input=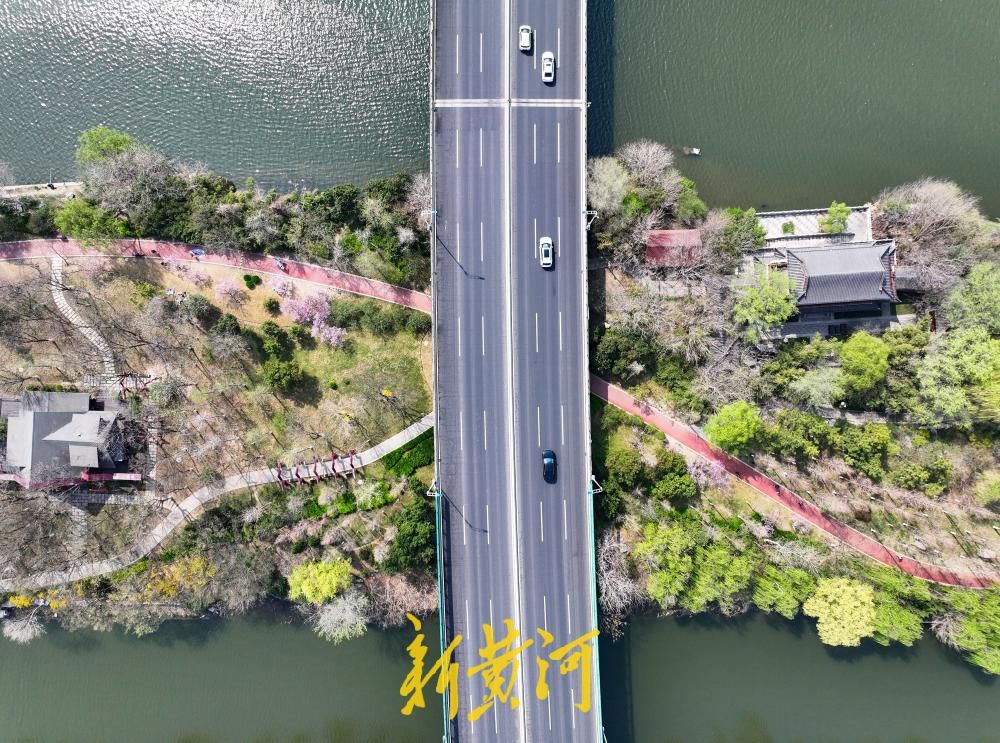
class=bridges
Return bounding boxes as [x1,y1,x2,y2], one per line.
[430,0,606,743]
